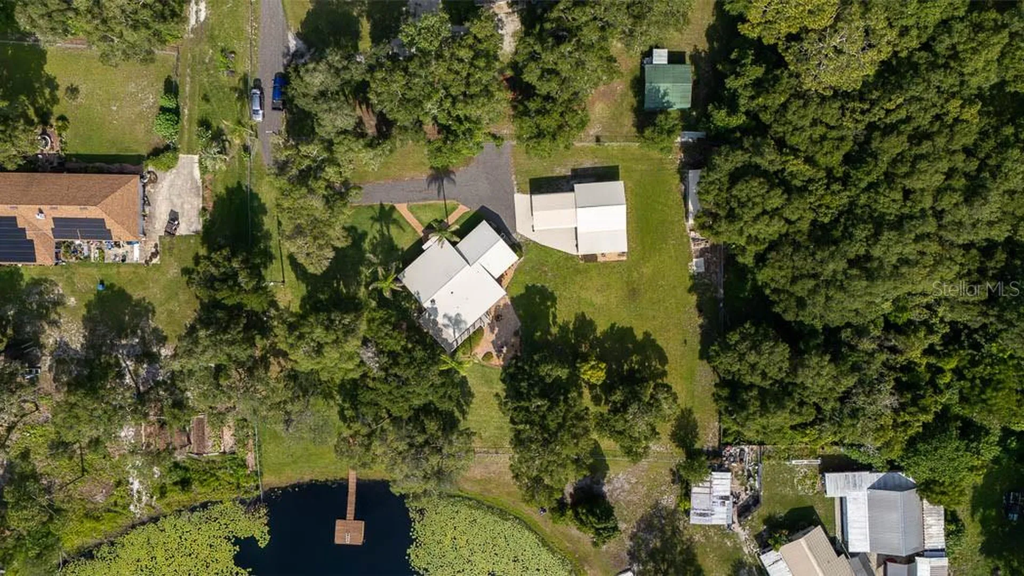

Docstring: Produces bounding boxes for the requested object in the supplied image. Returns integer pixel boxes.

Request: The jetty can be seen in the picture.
[334,469,365,545]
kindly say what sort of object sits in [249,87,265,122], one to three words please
car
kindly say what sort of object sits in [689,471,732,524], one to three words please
shed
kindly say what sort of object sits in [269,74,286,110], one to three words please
vehicle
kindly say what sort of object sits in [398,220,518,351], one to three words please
house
